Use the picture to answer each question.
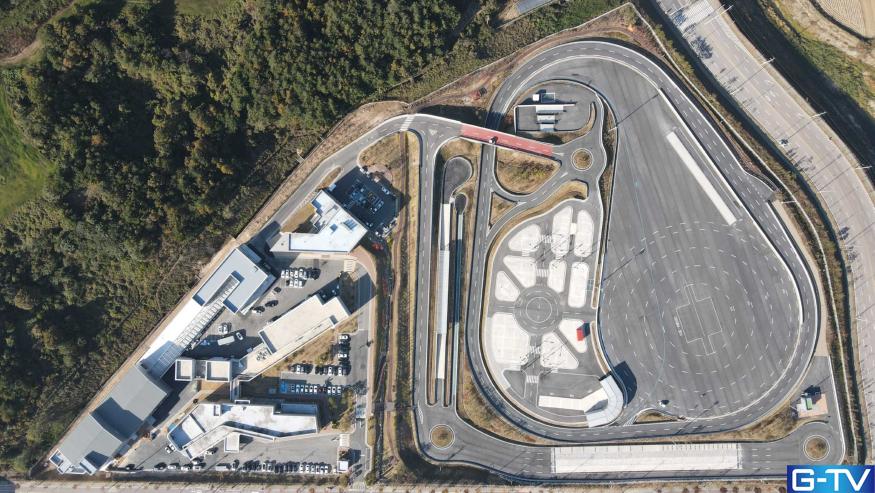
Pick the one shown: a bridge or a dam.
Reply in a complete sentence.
This aerial view contains a bridge.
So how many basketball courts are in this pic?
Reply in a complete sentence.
Not a single basketball court can be seen.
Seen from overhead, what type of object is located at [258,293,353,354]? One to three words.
building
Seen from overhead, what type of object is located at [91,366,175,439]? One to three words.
hangar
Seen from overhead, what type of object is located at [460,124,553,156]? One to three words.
bridge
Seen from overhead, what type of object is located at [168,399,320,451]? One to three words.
building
